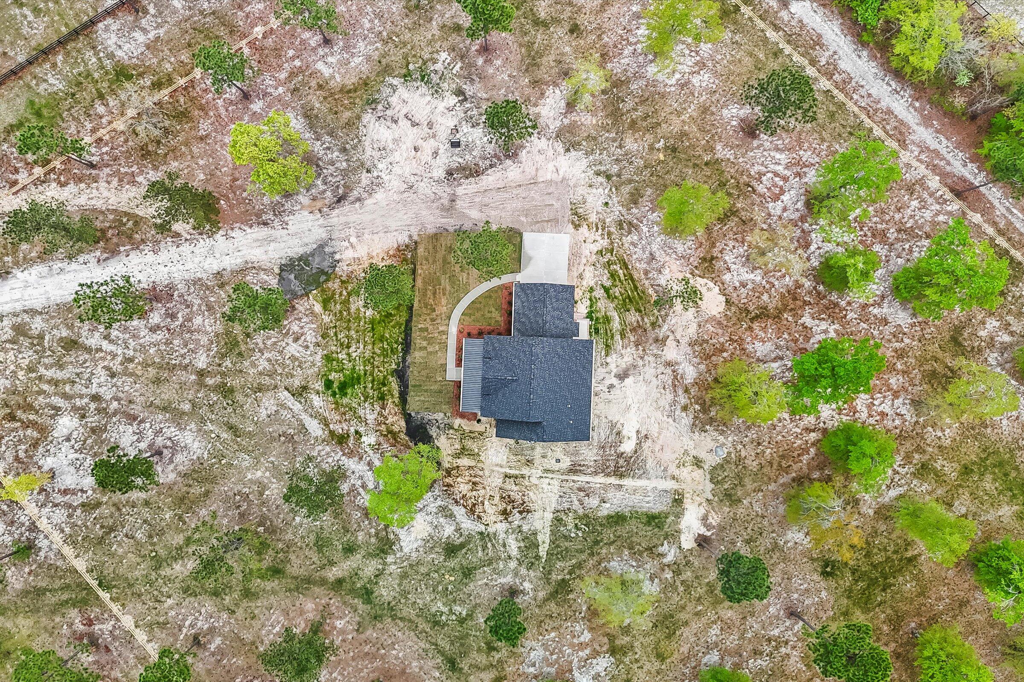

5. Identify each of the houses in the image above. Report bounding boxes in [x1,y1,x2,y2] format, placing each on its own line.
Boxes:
[459,282,596,442]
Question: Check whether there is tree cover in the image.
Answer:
Yes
